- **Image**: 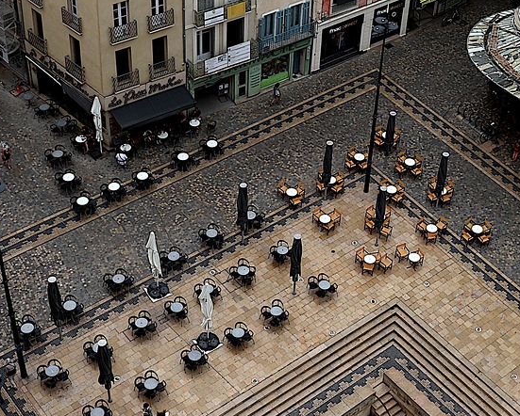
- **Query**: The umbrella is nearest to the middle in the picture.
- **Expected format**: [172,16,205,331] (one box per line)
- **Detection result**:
[237,184,250,245]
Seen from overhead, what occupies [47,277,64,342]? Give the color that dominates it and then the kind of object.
black umbrella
